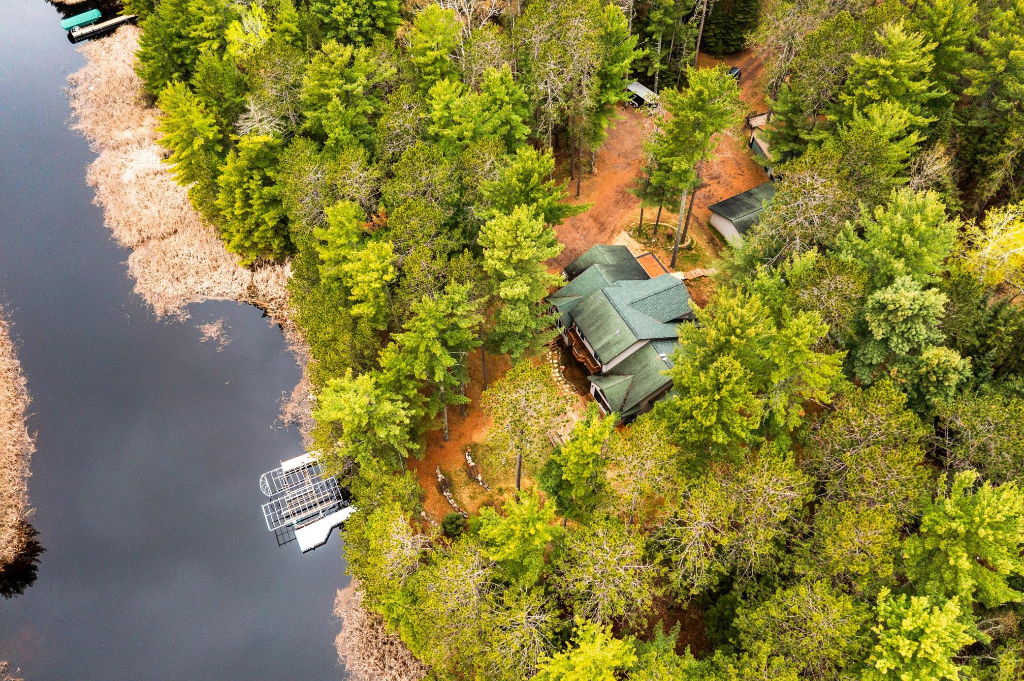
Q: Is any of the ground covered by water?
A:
Yes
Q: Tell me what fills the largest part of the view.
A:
trees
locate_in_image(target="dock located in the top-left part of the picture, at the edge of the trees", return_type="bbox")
[72,13,139,40]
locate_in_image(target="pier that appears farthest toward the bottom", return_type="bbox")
[295,507,366,552]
